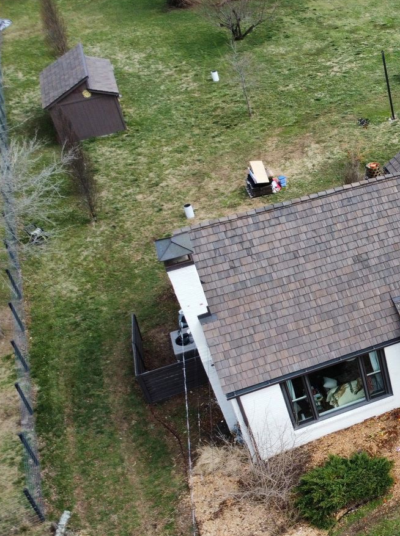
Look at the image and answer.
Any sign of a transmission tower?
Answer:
No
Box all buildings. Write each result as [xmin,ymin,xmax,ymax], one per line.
[38,44,126,143]
[154,151,400,457]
